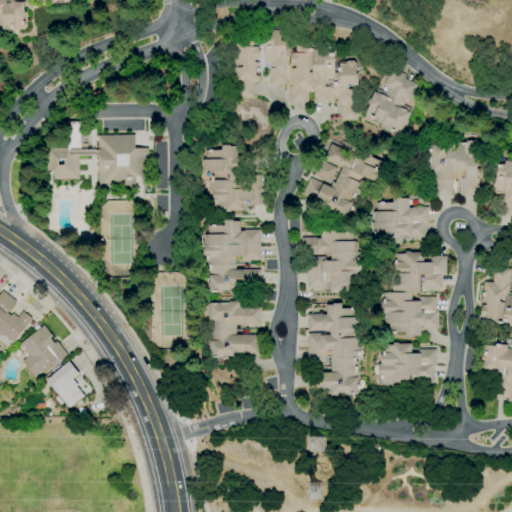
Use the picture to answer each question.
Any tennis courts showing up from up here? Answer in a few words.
Yes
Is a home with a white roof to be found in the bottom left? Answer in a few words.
Yes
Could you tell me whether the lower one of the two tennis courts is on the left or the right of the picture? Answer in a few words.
left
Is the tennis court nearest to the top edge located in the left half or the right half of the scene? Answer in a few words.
left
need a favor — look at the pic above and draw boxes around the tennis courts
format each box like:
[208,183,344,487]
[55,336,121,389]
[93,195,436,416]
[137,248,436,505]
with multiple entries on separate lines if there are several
[104,200,134,276]
[154,272,186,347]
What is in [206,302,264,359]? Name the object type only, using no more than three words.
house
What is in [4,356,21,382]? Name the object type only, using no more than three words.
swimming pool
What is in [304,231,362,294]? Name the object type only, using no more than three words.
house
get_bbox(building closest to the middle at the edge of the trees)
[204,220,262,292]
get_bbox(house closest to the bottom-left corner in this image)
[50,365,82,406]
